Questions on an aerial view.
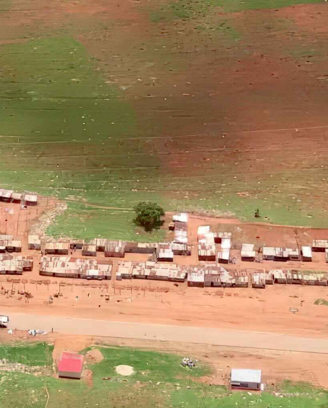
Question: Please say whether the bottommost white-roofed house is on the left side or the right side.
right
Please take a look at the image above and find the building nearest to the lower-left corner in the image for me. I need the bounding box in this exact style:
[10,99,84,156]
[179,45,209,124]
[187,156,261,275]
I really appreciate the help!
[59,353,84,380]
